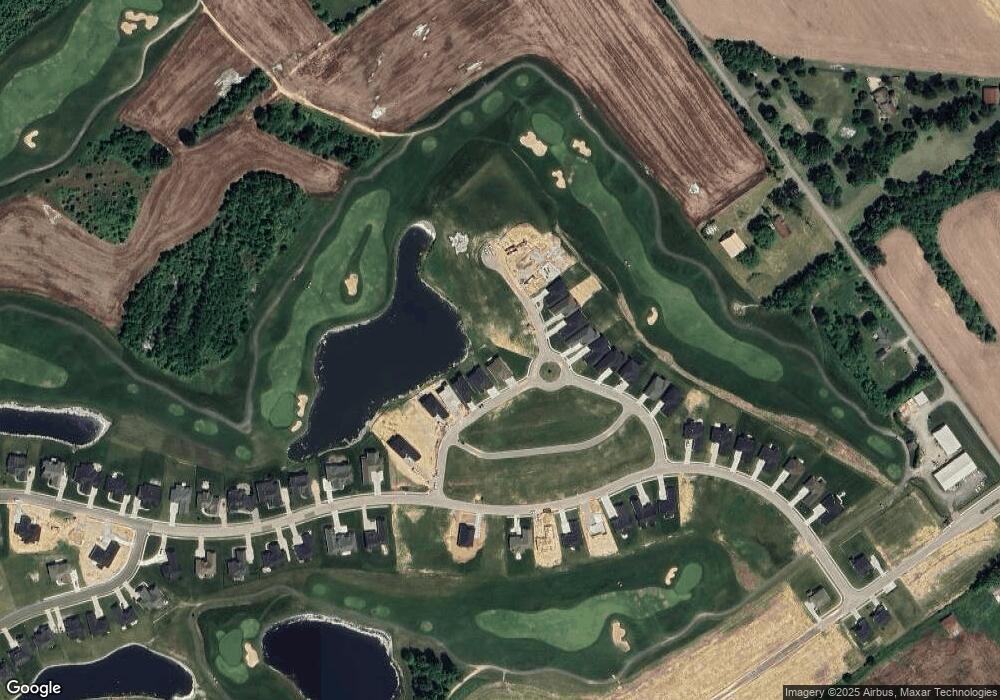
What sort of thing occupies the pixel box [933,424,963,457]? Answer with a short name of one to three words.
shed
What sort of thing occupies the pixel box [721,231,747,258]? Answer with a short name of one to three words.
barn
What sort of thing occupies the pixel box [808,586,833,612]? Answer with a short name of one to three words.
house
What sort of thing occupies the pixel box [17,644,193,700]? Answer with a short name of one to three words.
pond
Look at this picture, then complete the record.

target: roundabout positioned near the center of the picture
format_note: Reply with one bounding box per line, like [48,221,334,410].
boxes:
[530,352,569,391]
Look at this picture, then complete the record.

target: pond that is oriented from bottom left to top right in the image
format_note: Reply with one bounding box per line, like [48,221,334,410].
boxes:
[289,226,468,460]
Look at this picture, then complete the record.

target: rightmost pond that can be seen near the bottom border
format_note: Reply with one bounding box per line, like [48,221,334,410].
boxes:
[263,618,398,700]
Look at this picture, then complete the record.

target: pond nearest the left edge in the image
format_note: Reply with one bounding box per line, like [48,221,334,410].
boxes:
[0,408,102,445]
